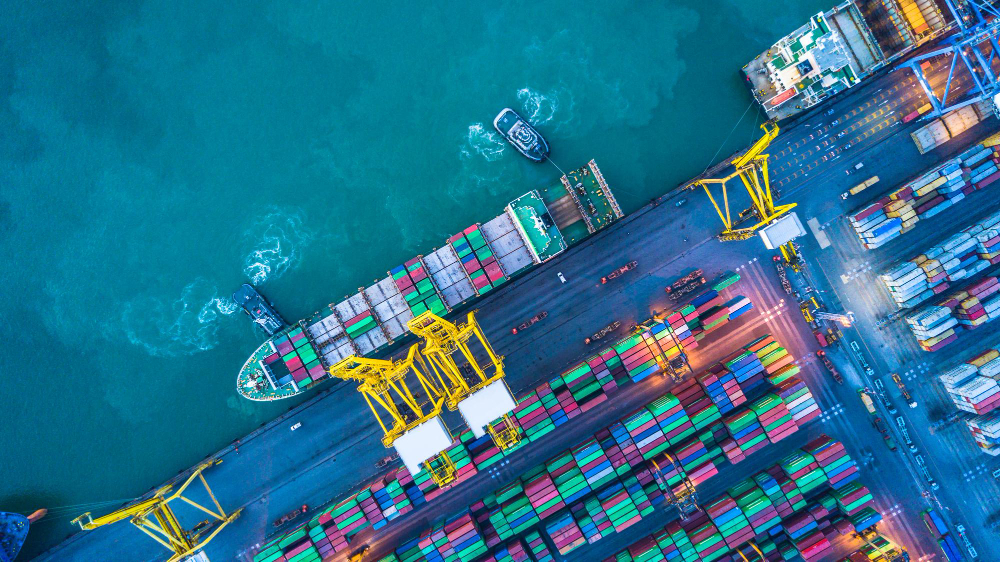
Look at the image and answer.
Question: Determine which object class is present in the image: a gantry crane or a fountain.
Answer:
gantry crane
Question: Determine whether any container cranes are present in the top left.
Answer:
No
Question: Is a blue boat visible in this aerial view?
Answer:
Yes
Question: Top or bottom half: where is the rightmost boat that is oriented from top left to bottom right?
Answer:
top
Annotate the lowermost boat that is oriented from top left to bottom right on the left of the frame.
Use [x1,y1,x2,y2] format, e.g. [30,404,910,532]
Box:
[231,283,287,335]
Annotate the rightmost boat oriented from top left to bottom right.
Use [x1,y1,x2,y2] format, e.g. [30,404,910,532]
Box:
[496,107,548,161]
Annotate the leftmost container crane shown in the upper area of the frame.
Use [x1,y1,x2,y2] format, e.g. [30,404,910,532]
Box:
[689,106,819,271]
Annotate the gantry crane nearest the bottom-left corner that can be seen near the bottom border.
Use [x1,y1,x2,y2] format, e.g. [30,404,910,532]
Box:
[61,464,243,562]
